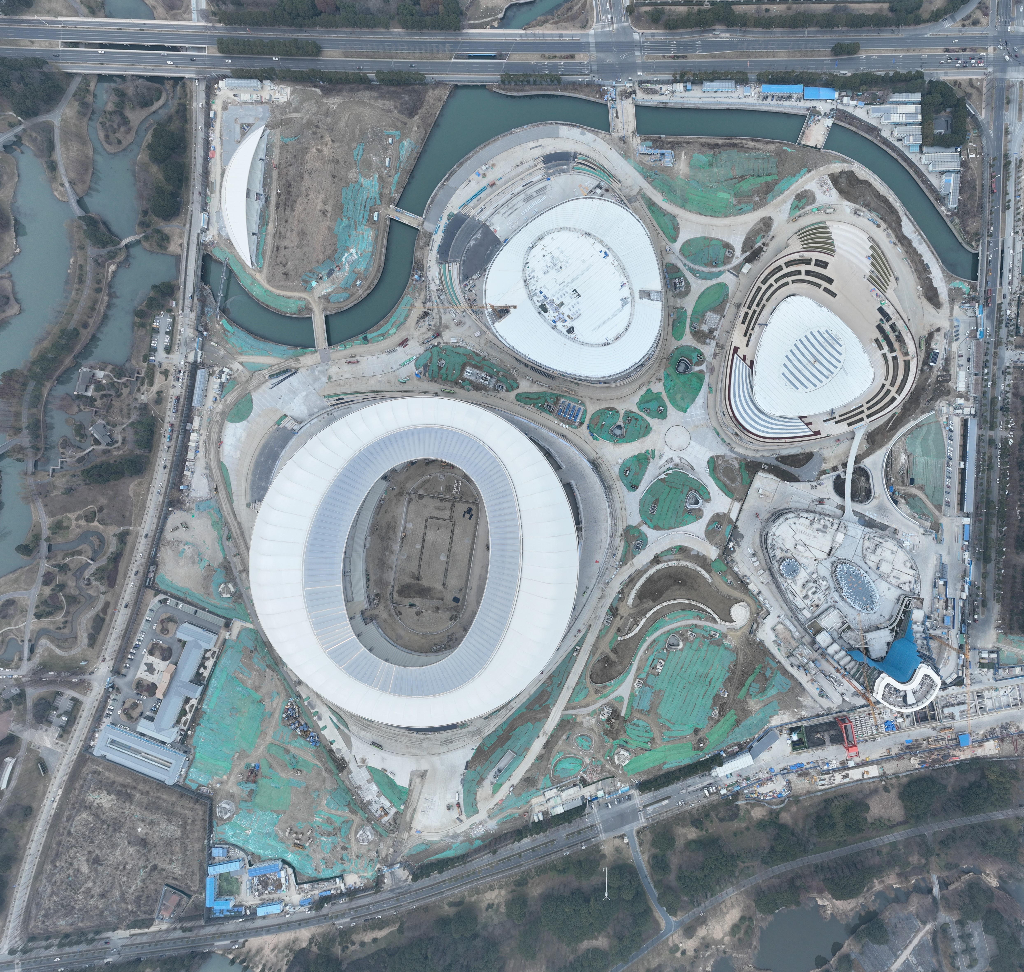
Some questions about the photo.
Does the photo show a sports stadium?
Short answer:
Yes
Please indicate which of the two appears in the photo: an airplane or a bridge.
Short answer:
bridge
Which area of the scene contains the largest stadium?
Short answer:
center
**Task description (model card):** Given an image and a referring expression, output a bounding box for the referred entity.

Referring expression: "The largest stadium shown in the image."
[249,396,579,728]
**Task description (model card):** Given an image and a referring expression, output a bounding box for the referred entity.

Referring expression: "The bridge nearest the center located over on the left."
[310,309,328,354]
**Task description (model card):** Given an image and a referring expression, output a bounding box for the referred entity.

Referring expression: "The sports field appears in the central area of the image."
[367,459,489,653]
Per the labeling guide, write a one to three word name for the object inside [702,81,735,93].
building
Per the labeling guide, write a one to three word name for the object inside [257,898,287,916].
shed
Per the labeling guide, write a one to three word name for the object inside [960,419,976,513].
building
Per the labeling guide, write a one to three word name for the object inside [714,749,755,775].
shed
